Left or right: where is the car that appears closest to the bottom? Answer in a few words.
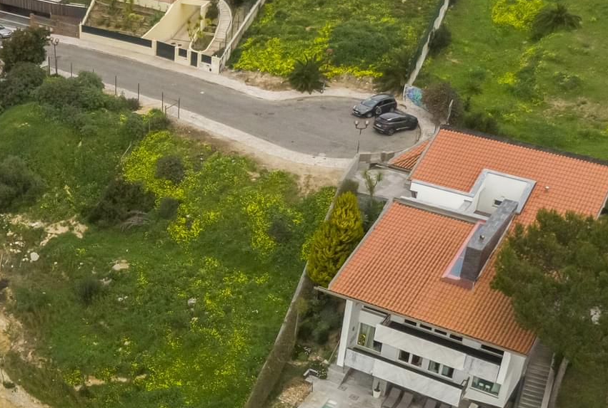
right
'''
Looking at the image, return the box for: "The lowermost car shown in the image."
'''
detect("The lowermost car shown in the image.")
[373,110,421,134]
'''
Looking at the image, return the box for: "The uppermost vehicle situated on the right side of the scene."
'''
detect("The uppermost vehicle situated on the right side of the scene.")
[351,93,399,117]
